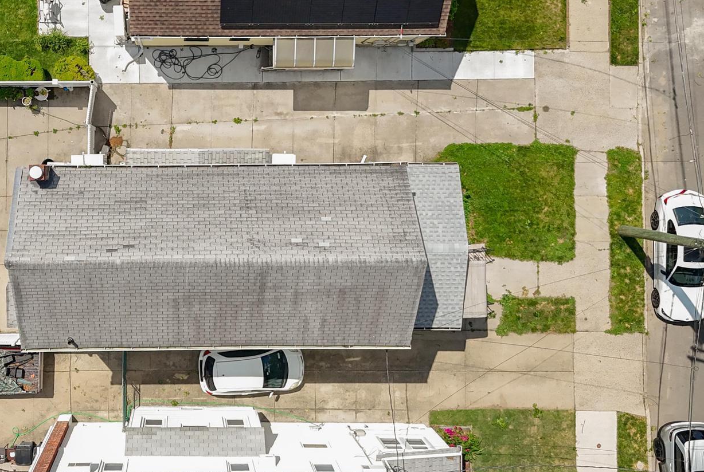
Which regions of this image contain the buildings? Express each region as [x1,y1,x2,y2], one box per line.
[0,407,467,472]
[2,149,503,359]
[126,0,453,79]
